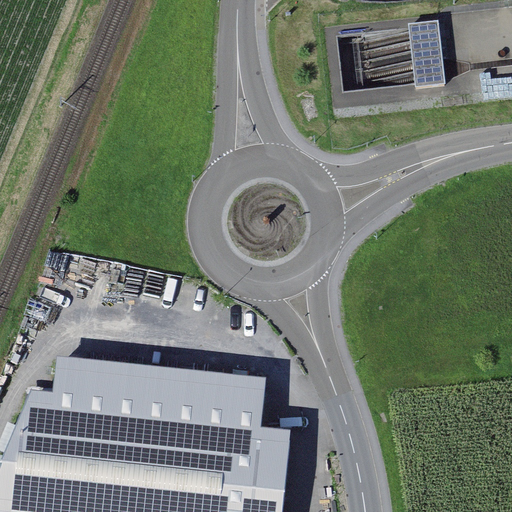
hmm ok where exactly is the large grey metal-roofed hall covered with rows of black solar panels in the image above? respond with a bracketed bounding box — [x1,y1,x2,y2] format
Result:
[0,356,290,512]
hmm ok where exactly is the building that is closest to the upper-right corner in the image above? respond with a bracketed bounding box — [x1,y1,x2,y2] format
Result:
[408,20,445,88]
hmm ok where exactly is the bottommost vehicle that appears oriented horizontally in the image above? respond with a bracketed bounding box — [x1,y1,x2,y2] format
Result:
[279,416,309,429]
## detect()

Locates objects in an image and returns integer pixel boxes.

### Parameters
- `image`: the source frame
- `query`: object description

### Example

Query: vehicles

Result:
[40,288,72,310]
[162,277,178,309]
[279,416,309,429]
[230,306,242,330]
[194,288,204,312]
[244,312,255,336]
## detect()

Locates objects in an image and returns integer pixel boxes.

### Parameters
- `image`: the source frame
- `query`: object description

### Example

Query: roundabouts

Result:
[188,143,346,301]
